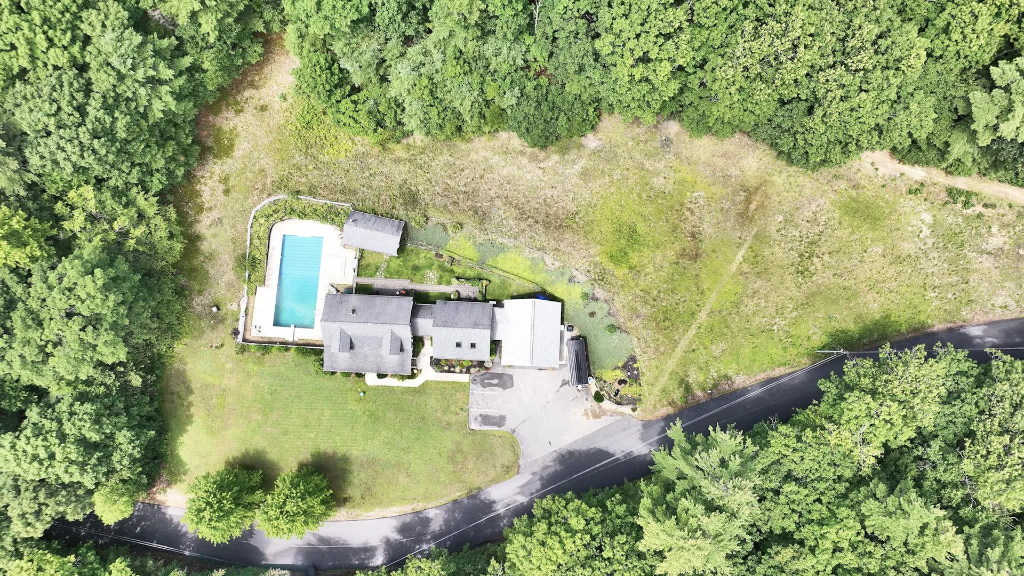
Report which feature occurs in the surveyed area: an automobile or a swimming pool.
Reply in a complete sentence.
There is a swimming pool in the scene.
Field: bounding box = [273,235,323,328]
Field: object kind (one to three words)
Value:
swimming pool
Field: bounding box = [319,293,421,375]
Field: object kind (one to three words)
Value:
house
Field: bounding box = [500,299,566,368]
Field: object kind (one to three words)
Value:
building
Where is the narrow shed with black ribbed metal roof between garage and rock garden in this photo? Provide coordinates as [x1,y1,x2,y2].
[566,339,588,386]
